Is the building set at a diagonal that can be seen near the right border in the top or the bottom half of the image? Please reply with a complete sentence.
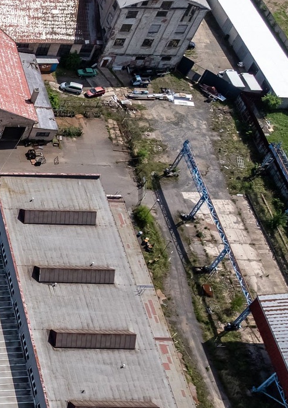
The top half of the photo is where the building set at a diagonal that can be seen near the right border is.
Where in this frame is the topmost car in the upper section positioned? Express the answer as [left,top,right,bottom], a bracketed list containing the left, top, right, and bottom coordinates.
[186,36,202,51]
